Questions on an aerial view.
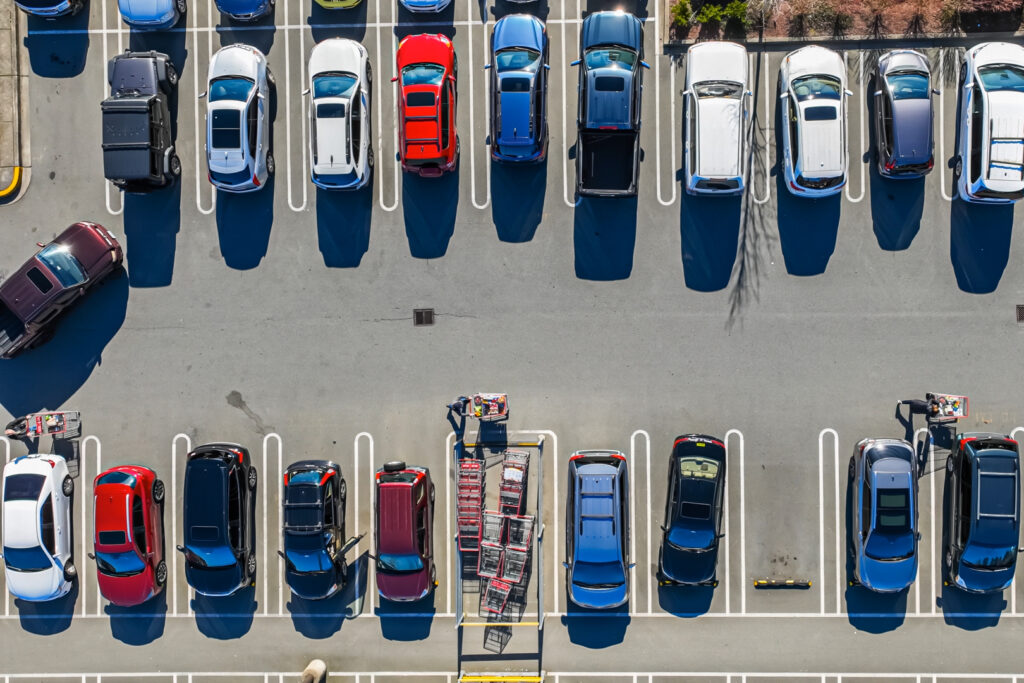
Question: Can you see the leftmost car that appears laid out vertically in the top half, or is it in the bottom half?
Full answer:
You can find the leftmost car that appears laid out vertically in the bottom half.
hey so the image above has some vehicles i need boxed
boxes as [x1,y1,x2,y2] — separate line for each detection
[662,434,730,586]
[870,51,943,181]
[574,10,649,201]
[0,222,129,365]
[21,0,78,17]
[278,458,370,602]
[485,15,552,164]
[682,40,754,197]
[403,0,448,14]
[301,38,371,191]
[849,436,923,592]
[200,44,273,194]
[217,0,275,22]
[0,453,74,603]
[780,47,854,199]
[564,449,634,610]
[947,432,1024,594]
[952,43,1024,205]
[102,50,179,191]
[369,461,436,603]
[181,442,256,598]
[89,465,164,608]
[390,34,456,179]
